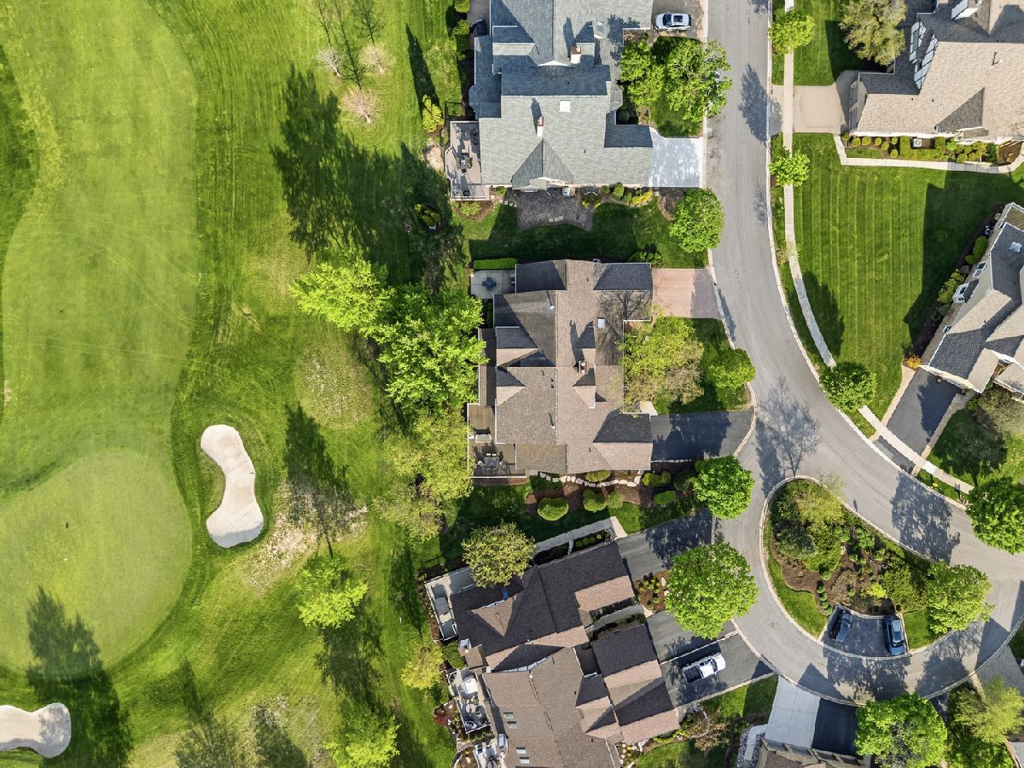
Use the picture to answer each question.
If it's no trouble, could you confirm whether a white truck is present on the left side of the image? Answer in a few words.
No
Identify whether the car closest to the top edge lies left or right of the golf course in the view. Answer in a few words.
to its right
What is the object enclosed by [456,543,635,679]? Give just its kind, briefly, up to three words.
house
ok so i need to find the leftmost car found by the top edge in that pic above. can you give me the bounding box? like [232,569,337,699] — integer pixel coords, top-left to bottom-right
[655,12,692,32]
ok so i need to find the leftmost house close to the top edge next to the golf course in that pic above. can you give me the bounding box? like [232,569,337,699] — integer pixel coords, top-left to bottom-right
[468,0,653,193]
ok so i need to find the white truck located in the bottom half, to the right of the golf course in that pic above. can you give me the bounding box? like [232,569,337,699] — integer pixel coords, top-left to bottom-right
[681,654,728,683]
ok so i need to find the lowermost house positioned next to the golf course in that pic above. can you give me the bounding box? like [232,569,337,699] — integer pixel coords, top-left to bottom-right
[480,622,679,768]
